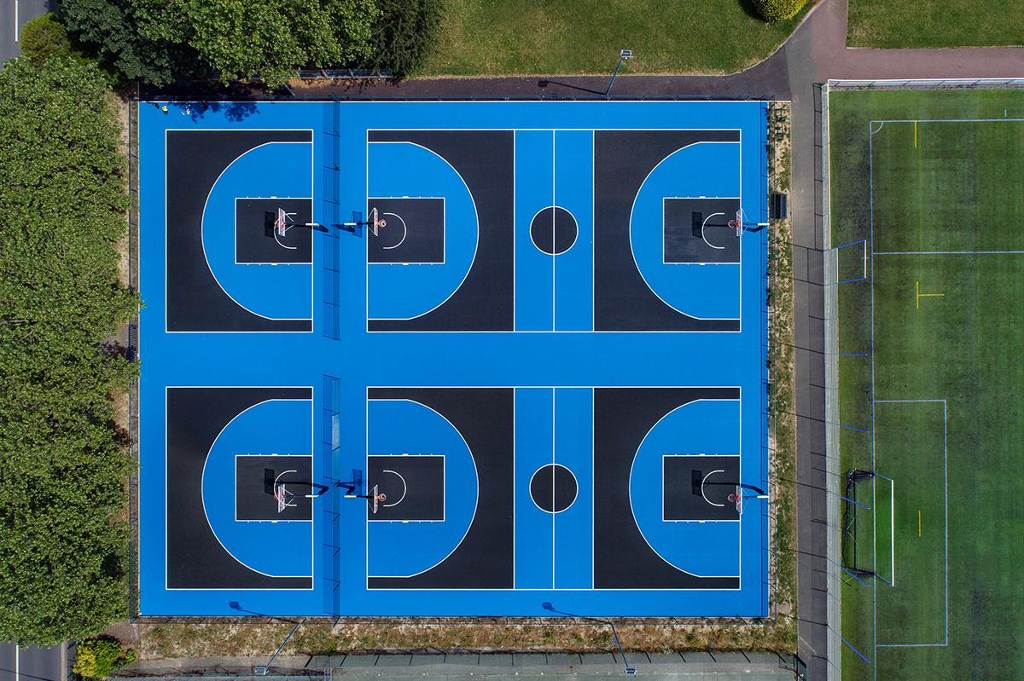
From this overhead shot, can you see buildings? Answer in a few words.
No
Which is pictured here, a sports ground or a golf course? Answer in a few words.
sports ground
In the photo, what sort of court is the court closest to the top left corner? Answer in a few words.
basketball court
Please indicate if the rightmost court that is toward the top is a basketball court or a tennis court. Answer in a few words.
basketball court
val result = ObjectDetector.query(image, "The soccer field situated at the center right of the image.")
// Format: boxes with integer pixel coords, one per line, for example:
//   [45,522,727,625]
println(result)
[823,84,1024,681]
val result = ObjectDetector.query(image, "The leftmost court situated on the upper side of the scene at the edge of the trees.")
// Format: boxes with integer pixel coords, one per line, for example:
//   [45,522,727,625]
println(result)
[165,129,313,332]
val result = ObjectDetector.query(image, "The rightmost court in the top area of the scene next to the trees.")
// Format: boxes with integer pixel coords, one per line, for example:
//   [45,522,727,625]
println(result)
[368,129,741,332]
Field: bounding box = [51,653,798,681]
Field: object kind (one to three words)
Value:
sports court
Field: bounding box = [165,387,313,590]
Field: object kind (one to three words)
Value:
basketball court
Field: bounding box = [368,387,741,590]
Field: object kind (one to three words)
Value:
basketball court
